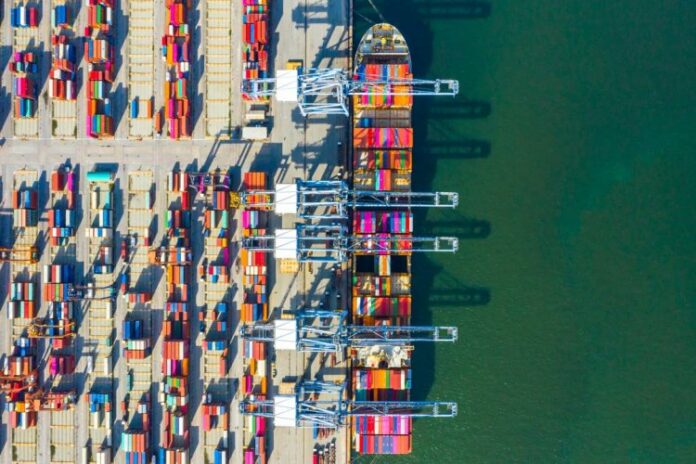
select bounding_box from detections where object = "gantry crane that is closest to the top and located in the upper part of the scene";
[244,70,460,123]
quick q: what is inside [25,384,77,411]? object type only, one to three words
container crane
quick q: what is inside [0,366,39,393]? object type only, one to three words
container crane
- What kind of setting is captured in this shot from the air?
port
